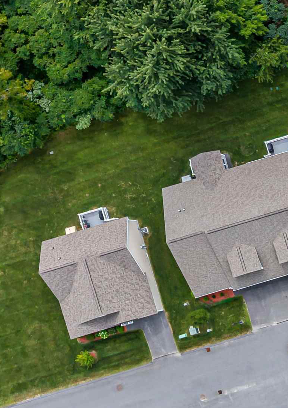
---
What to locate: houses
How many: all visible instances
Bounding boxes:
[38,208,160,339]
[164,135,288,298]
